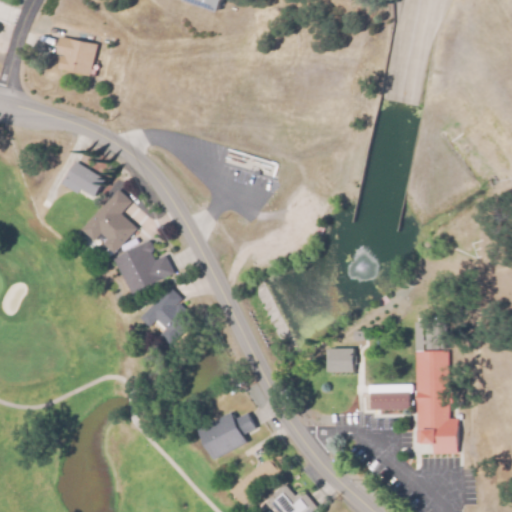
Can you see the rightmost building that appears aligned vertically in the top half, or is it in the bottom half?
bottom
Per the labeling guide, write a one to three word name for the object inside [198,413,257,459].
house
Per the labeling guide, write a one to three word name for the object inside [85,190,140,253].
house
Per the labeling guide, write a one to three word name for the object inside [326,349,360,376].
building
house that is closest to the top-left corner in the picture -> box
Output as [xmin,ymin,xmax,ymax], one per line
[60,38,99,77]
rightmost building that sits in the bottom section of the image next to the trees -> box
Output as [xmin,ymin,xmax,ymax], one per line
[416,351,462,456]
